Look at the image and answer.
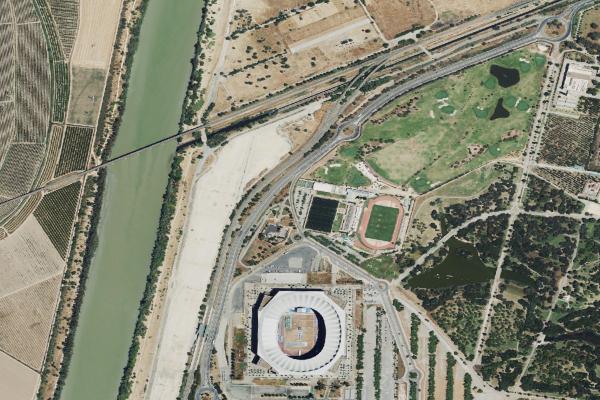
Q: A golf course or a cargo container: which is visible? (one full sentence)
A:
I can see a golf course in this picture.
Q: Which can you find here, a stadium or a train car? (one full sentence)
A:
Of the two, only a stadium appears.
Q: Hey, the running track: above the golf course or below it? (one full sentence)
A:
Looking at the scene, the running track is located below the golf course.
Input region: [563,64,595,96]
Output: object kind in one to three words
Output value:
building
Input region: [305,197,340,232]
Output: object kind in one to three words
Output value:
soccer field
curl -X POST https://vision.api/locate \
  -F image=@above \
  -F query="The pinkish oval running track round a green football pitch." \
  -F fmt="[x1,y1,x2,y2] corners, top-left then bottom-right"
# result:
[359,193,405,252]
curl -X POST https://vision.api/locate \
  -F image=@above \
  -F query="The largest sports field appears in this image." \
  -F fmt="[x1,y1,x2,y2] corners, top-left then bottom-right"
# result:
[294,178,420,252]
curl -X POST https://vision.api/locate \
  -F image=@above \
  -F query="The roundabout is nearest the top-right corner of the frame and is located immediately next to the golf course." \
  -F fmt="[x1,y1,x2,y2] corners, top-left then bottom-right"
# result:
[539,16,572,42]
